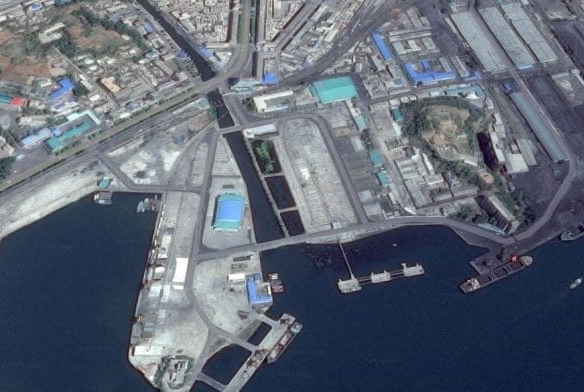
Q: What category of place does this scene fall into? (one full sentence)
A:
The picture captures a port.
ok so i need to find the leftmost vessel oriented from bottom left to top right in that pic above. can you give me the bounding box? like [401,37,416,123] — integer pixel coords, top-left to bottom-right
[267,323,303,361]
